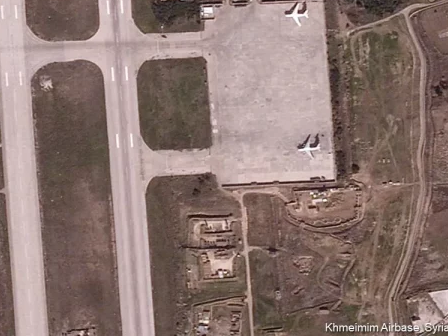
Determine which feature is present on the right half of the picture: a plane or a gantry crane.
plane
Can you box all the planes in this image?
[297,137,321,161]
[285,4,308,28]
